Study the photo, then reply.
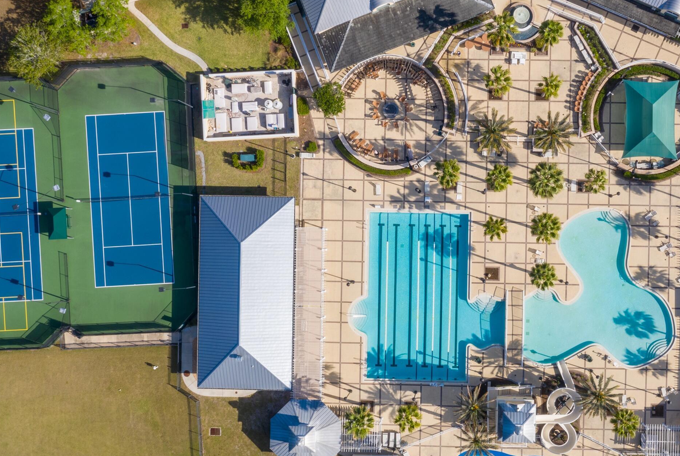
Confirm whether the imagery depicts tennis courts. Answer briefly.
Yes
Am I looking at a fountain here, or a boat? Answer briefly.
fountain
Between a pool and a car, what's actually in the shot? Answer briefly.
pool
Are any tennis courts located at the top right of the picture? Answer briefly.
No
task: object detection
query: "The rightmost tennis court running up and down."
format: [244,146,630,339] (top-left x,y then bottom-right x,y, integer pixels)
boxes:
[58,65,194,333]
